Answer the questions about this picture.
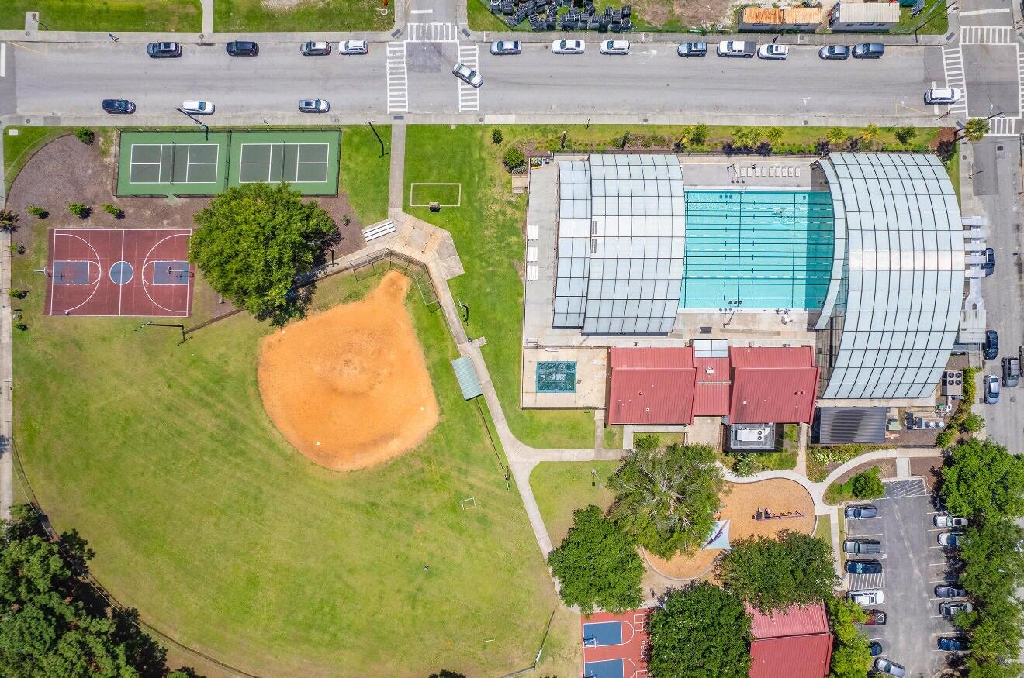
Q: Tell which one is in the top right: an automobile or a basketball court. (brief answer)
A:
automobile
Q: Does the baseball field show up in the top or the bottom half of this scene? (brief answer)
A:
bottom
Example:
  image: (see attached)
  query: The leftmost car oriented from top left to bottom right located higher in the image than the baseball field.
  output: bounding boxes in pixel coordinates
[452,63,484,88]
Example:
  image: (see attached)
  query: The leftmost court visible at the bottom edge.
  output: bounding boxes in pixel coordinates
[581,608,666,678]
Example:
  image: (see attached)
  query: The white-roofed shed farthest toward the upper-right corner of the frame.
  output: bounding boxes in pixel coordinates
[831,3,900,31]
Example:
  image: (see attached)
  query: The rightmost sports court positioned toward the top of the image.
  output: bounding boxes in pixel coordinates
[228,130,340,195]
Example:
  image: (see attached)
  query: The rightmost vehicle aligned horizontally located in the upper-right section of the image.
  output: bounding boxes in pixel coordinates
[921,87,959,105]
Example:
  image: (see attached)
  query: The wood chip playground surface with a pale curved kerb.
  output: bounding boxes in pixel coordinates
[640,478,818,579]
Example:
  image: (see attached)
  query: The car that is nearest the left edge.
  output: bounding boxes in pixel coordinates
[102,98,138,114]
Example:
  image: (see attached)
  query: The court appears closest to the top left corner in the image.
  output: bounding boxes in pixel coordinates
[117,130,228,206]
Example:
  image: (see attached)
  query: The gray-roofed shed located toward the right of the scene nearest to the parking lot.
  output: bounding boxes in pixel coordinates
[812,406,887,443]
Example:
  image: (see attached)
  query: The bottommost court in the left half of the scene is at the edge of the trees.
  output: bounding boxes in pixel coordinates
[45,228,192,317]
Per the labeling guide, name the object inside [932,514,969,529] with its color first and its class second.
white vehicle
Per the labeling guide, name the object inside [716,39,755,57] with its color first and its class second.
white vehicle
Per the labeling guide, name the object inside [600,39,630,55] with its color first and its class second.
white car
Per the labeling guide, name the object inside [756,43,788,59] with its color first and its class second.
white car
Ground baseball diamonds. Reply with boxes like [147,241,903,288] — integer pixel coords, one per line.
[13,267,555,678]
